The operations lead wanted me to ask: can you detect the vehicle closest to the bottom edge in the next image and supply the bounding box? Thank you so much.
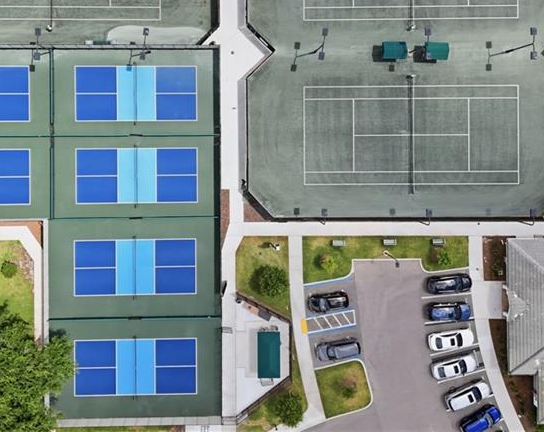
[458,402,504,432]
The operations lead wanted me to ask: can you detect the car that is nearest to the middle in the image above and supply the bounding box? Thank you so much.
[305,289,351,314]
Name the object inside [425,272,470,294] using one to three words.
car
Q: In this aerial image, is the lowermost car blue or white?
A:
blue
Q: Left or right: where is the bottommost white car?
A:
right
